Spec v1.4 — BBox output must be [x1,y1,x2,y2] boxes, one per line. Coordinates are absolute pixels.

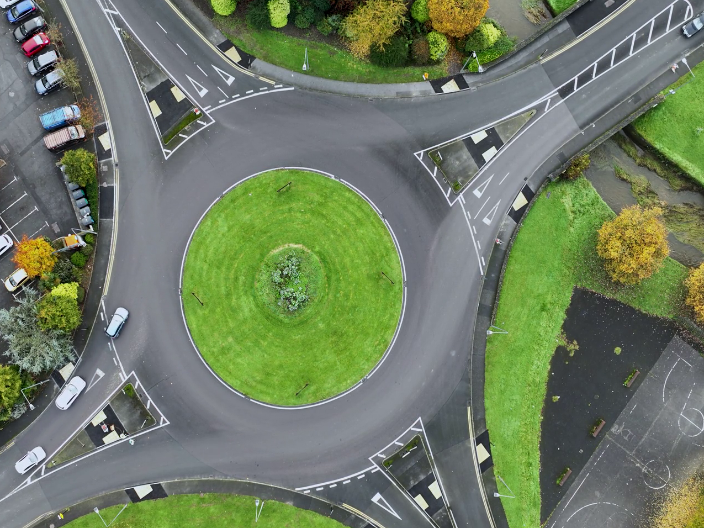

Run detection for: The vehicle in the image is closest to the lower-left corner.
[12,446,48,475]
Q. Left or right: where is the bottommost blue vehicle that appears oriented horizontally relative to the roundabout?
on its left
